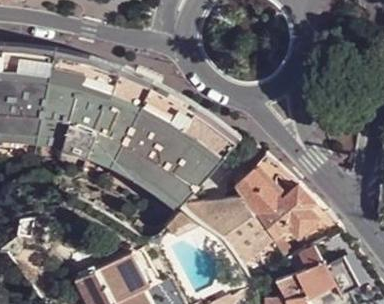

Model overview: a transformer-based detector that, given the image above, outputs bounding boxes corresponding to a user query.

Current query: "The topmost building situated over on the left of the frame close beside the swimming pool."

[0,45,240,212]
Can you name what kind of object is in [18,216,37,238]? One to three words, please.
shed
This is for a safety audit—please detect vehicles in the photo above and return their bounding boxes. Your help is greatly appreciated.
[185,70,206,94]
[206,87,230,107]
[30,28,58,40]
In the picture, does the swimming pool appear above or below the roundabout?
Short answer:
below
